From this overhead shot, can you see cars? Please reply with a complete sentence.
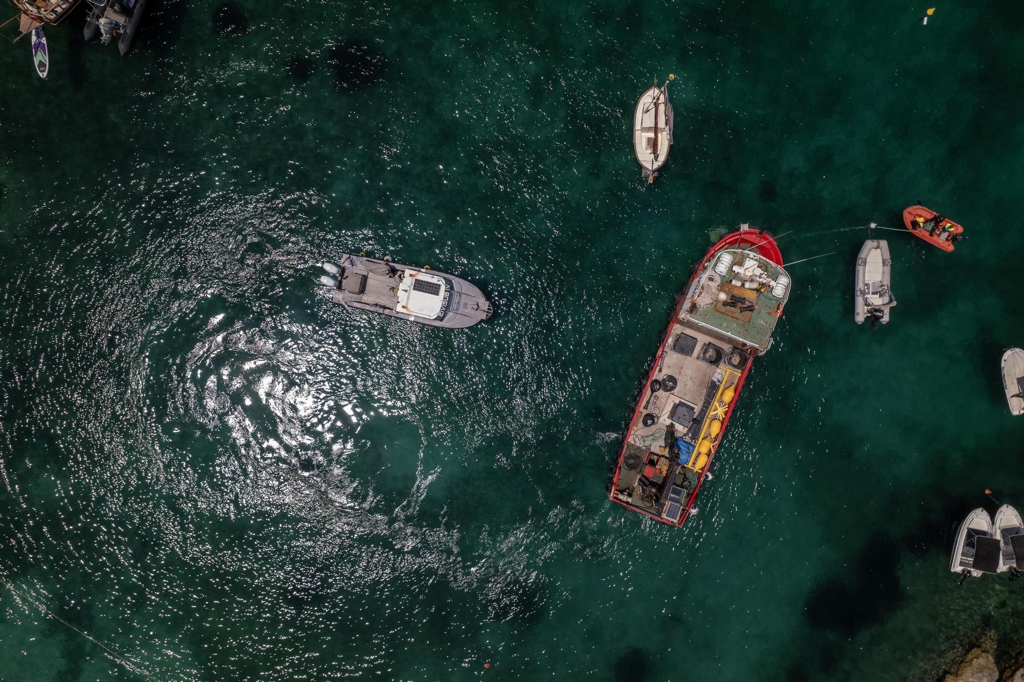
No, this view has no car in it.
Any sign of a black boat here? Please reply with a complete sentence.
Yes, looking at the shot, I can spot a black boat.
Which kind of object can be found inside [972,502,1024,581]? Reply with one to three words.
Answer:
boat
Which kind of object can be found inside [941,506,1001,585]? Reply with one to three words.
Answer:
boat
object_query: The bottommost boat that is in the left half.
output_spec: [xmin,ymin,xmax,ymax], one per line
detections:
[320,252,493,329]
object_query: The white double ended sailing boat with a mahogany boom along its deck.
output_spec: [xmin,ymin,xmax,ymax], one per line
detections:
[633,75,674,183]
